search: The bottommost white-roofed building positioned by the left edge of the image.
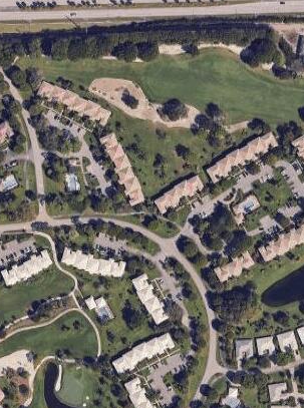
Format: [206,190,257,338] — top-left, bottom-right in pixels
[2,250,54,285]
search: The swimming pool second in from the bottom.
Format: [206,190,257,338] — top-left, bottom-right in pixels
[96,299,109,318]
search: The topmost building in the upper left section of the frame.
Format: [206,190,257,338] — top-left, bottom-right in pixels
[36,80,111,125]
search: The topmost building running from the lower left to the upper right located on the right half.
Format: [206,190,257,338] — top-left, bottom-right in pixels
[208,131,278,181]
